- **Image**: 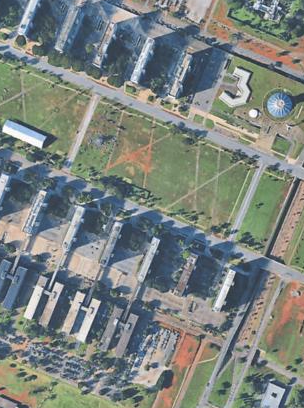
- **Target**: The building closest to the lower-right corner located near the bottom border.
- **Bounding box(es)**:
[261,382,286,408]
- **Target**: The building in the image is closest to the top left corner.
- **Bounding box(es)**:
[19,0,45,38]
